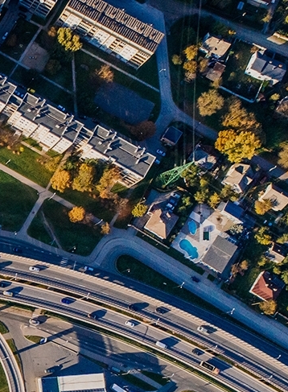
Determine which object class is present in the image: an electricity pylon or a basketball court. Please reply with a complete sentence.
Of the two, only an electricity pylon appears.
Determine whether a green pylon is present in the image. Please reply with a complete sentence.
Yes, there's a green pylon here.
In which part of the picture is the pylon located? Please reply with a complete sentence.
You can find the pylon in the center area of the picture.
